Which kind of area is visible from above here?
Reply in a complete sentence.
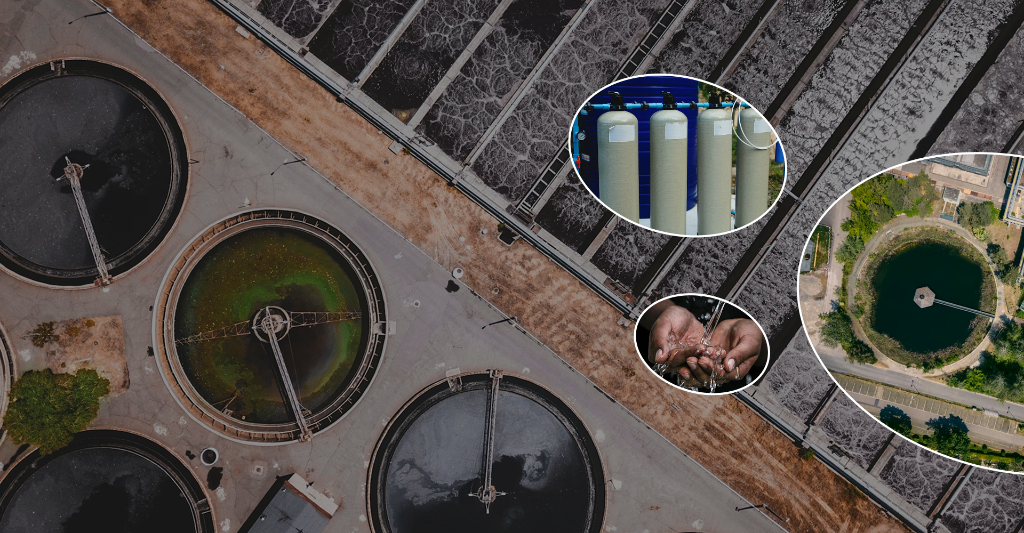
The area seen from above is an industrial area.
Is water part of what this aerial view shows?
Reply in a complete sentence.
Yes, water shows up in the scene.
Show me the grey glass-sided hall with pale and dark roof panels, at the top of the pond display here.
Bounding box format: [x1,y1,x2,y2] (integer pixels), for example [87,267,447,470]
[923,155,997,177]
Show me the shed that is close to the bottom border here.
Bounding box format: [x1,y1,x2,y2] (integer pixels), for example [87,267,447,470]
[245,473,339,533]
